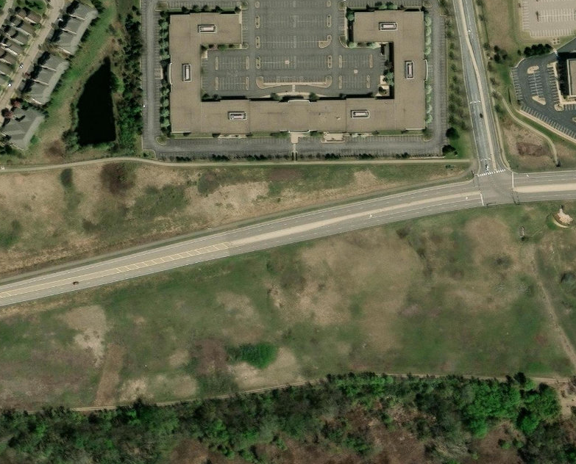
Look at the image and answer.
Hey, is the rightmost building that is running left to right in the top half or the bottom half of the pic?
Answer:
top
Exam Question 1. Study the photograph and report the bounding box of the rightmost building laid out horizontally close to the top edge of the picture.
[169,10,427,134]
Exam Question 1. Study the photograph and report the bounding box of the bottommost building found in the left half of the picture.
[2,108,45,148]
